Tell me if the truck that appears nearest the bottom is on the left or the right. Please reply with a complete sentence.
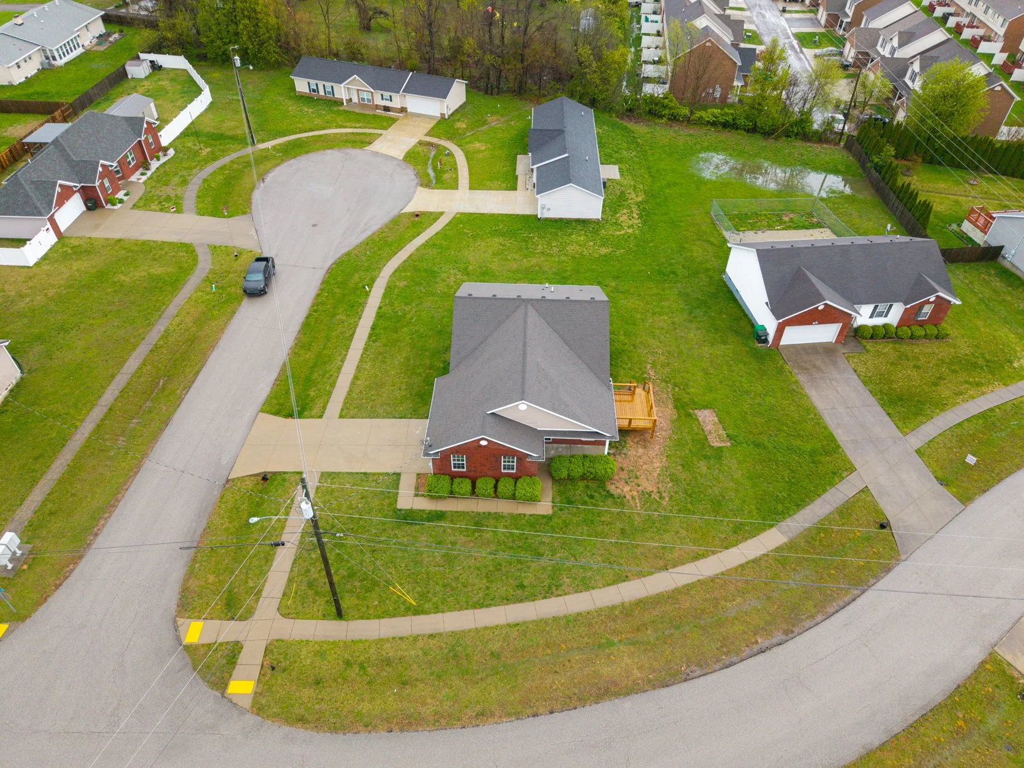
The truck that appears nearest the bottom appears in the left half of the scene.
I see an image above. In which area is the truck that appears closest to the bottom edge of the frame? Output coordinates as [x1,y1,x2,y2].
[242,255,278,294]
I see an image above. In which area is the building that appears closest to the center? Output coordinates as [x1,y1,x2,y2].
[421,282,619,481]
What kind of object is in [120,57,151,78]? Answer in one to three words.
shed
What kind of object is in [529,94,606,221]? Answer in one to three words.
house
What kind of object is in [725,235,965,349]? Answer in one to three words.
house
